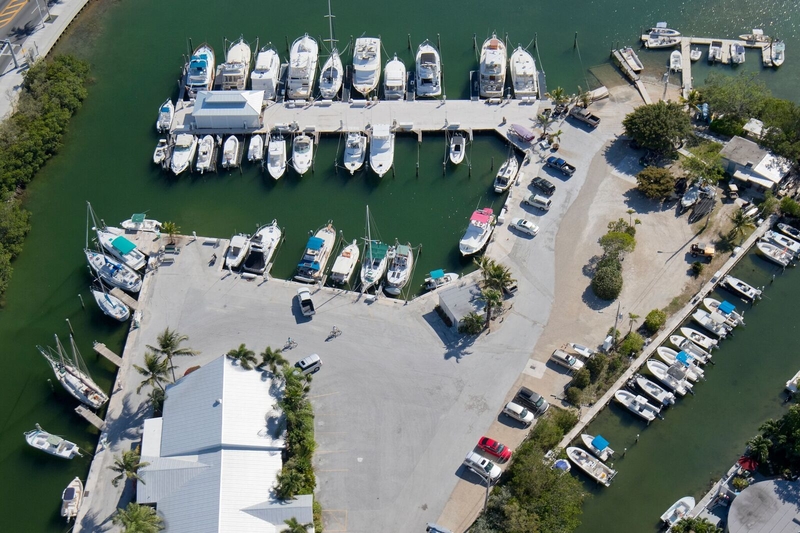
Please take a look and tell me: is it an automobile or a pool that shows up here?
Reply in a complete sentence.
The one in the frame is an automobile.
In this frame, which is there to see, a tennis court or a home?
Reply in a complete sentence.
The image shows a home.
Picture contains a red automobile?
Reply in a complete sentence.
Yes, there's a red automobile here.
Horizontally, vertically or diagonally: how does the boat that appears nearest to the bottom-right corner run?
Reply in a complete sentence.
Seen from above, the boat that appears nearest to the bottom-right corner lies diagonally.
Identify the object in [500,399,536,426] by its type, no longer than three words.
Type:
car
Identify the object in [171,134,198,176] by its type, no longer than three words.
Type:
boat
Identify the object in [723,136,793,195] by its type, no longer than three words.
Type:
house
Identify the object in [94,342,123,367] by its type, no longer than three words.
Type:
pier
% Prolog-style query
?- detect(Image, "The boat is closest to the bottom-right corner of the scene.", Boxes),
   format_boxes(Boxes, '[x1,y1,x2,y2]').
[656,497,695,531]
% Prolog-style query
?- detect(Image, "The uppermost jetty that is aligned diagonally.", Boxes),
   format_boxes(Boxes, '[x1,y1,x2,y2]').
[611,47,640,87]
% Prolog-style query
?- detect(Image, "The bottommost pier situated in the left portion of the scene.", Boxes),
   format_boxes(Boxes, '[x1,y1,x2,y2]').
[75,404,104,431]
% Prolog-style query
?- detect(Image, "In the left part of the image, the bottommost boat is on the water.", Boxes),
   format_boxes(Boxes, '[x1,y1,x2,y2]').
[56,476,84,522]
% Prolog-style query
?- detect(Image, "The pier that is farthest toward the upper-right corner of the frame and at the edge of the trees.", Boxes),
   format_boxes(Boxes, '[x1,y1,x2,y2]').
[641,34,773,96]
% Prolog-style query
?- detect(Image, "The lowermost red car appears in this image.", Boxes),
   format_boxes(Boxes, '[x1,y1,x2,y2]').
[477,436,512,461]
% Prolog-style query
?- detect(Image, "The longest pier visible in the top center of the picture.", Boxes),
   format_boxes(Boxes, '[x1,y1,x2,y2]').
[171,100,540,154]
